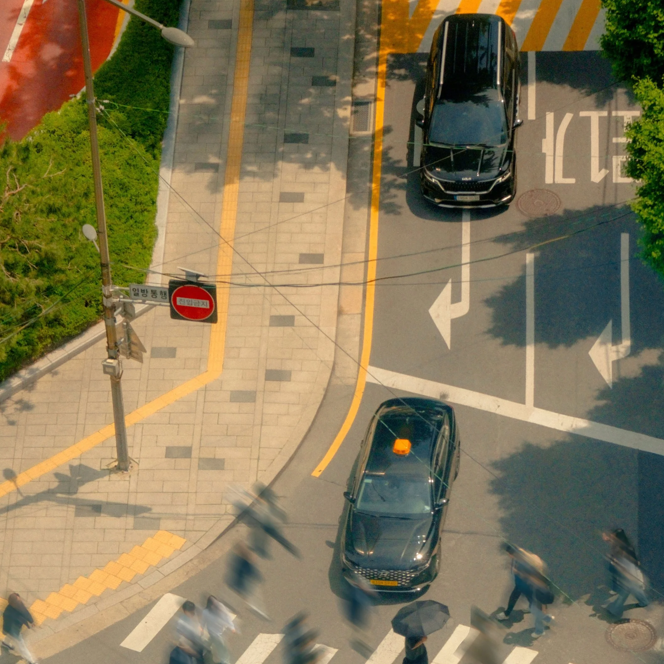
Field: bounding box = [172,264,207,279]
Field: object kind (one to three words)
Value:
solar panel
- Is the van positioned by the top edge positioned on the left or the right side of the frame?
right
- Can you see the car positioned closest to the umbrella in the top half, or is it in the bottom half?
bottom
